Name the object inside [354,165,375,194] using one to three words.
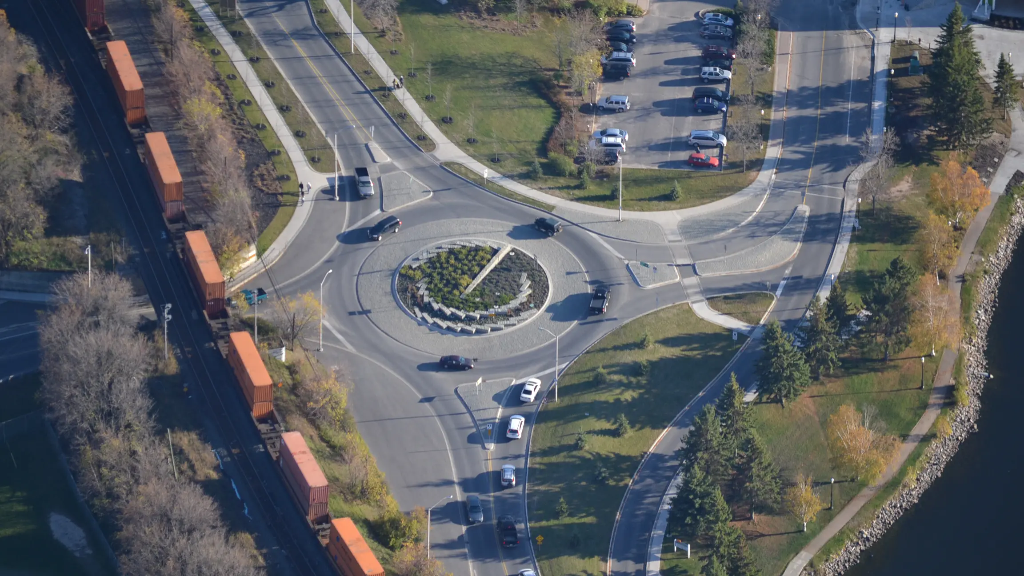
truck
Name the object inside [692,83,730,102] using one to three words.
car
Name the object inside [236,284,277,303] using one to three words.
vehicle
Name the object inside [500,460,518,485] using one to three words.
car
